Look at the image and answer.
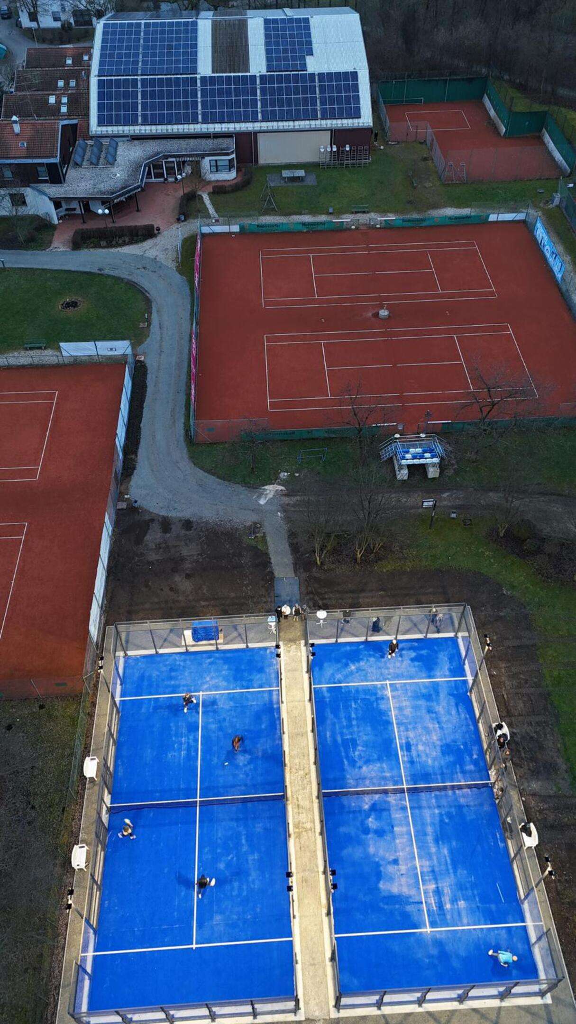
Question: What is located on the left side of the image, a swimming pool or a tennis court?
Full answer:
It is a tennis court that can be seen on the left side of the image.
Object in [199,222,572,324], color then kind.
red tennis court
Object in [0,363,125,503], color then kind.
red tennis court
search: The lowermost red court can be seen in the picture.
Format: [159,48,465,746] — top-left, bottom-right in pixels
[0,498,109,700]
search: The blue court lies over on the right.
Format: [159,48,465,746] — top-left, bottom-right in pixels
[303,603,564,1012]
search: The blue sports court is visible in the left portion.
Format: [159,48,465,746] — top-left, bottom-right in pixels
[66,613,304,1024]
